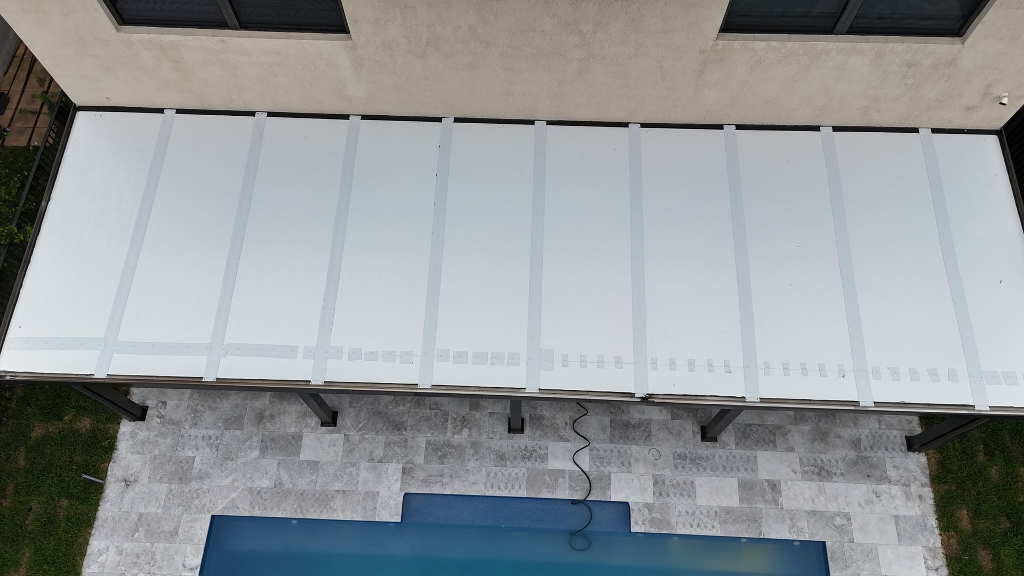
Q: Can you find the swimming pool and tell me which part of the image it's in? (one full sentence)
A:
The swimming pool sits in the bottom section of the image.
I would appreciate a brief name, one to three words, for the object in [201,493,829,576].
swimming pool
